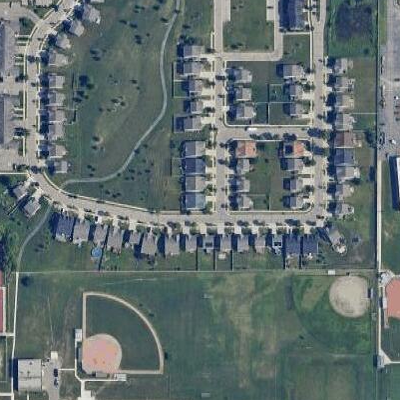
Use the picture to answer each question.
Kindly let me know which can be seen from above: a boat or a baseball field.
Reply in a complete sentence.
The image shows a baseball field.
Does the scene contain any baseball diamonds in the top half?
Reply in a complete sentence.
No, no baseball diamond appears in the top half.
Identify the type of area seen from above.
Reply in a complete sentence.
It's a residential area.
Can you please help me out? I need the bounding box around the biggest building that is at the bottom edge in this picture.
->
[18,359,42,391]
